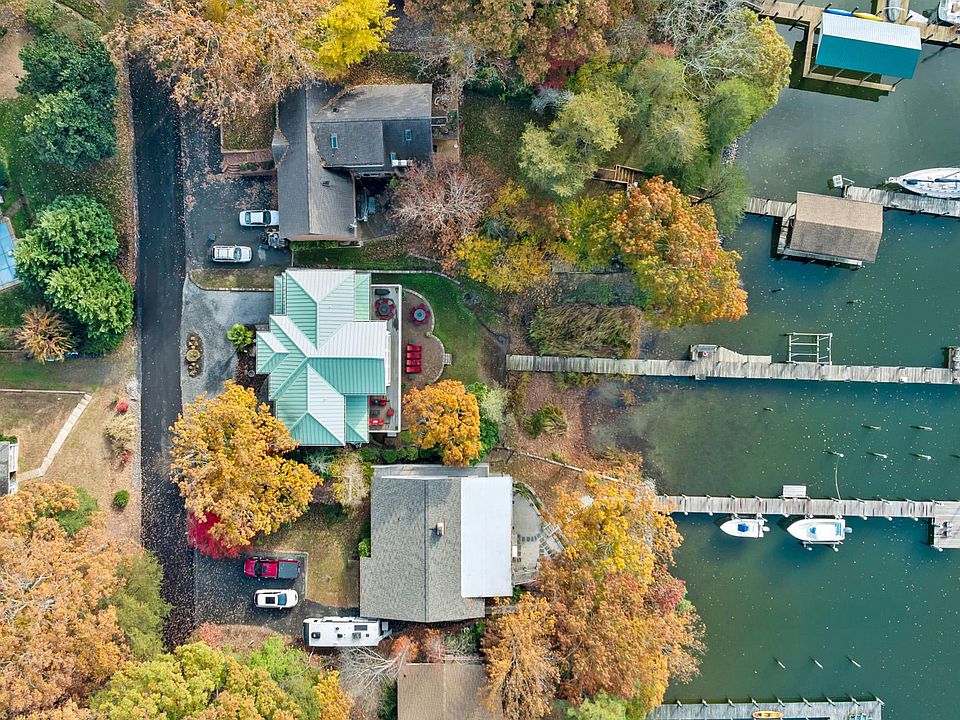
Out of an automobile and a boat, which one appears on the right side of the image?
boat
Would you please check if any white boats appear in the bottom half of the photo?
Yes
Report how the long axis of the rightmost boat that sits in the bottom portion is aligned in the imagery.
horizontally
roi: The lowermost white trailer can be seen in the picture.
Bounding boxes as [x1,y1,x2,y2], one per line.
[306,612,398,647]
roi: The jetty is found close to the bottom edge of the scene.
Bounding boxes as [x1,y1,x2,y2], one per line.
[640,694,886,720]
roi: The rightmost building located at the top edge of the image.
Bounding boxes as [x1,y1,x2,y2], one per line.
[802,12,922,86]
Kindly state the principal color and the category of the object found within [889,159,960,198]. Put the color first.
white boat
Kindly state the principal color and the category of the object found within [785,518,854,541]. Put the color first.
white boat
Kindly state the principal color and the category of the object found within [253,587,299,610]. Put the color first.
white car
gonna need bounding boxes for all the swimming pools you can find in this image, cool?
[0,213,24,287]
